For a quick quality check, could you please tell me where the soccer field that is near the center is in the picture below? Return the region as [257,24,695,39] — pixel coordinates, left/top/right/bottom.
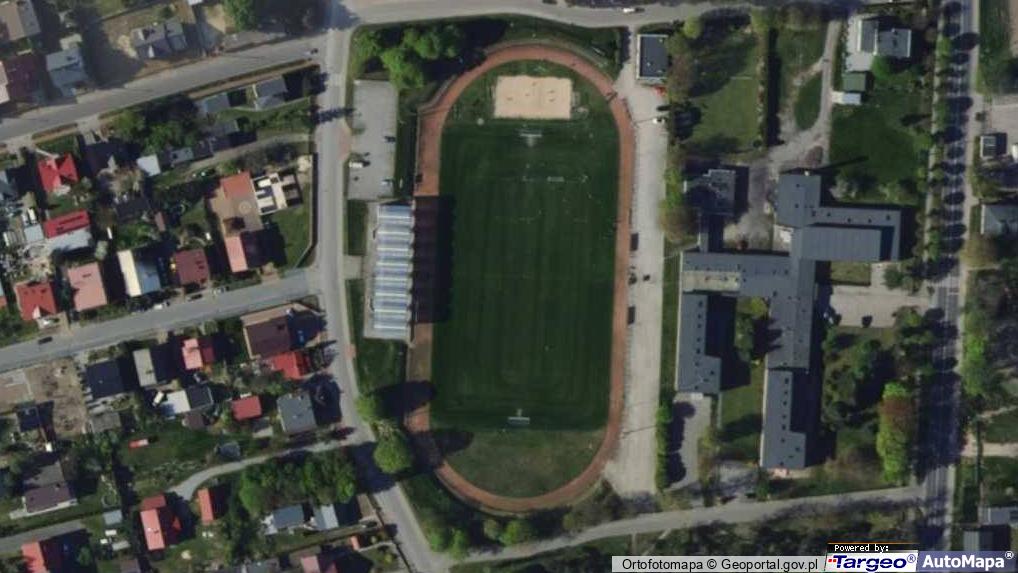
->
[428,60,621,497]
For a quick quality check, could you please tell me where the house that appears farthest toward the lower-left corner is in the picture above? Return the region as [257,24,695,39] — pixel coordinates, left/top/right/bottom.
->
[22,536,70,573]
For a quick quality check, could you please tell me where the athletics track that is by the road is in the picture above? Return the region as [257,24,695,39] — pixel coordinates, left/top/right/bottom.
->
[404,44,634,511]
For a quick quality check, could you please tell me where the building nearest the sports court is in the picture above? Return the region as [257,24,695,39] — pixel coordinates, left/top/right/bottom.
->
[636,34,669,81]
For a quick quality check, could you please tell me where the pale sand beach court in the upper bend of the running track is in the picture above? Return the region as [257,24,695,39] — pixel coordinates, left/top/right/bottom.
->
[494,75,572,118]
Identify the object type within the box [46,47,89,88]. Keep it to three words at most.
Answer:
house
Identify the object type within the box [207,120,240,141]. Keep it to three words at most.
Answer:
shed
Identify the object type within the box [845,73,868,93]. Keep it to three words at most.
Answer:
building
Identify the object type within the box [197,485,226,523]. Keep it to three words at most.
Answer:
house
